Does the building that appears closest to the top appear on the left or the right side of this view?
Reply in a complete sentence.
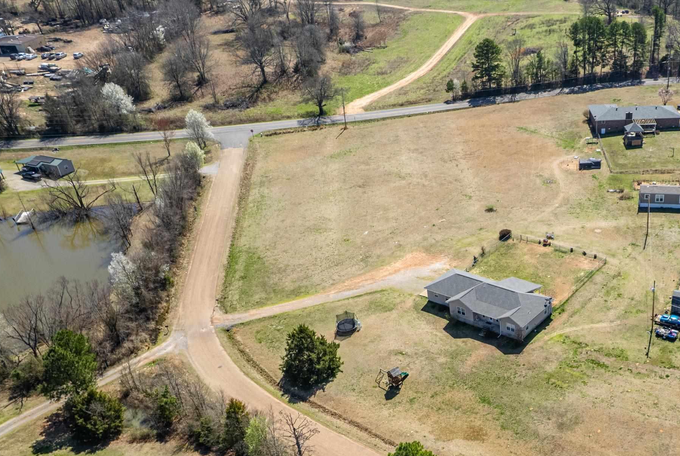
The building that appears closest to the top is on the left side of the image.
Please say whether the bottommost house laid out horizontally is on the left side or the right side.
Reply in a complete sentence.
The bottommost house laid out horizontally is on the right side of the image.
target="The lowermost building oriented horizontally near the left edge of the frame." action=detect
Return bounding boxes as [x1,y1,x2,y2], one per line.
[5,155,71,180]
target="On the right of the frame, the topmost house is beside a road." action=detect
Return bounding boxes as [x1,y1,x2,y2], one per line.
[591,98,680,132]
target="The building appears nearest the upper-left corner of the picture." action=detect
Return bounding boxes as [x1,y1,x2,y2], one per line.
[0,28,45,54]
